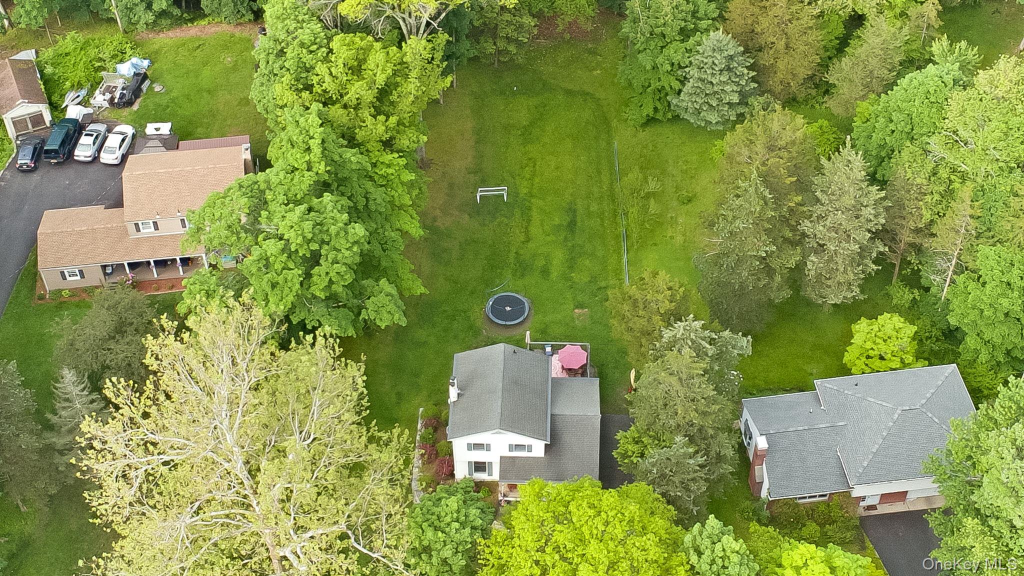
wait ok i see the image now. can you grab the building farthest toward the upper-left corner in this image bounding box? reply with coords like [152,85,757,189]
[0,50,51,133]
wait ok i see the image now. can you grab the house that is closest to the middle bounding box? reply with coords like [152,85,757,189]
[445,342,599,502]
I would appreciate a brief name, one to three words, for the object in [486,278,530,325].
trampoline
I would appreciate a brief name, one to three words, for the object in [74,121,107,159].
car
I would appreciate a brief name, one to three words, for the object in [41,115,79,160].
truck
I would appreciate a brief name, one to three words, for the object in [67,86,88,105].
boat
